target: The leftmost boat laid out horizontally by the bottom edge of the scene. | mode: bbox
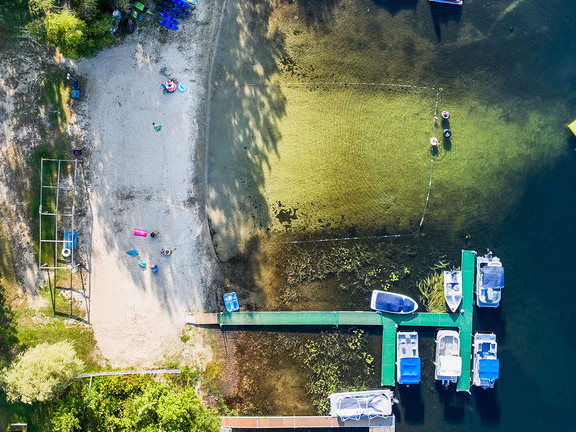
[329,388,400,418]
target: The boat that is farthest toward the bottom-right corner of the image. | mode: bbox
[471,332,499,391]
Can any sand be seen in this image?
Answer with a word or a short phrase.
Yes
